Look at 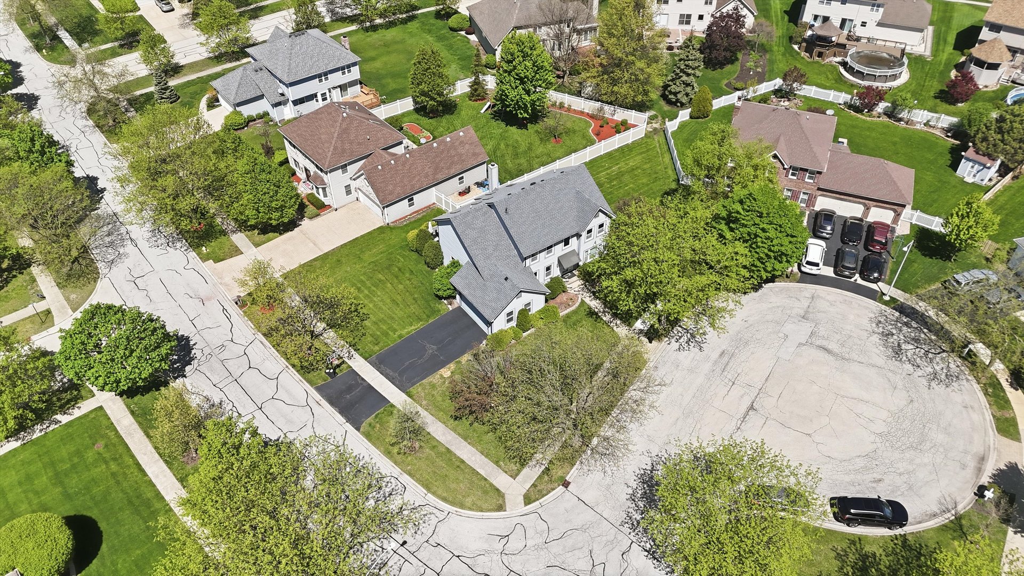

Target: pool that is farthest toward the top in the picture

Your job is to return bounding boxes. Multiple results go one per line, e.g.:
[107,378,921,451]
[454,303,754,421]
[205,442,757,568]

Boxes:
[845,47,911,84]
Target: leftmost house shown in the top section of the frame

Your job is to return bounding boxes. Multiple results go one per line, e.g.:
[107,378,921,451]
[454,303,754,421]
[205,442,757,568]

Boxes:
[210,19,361,117]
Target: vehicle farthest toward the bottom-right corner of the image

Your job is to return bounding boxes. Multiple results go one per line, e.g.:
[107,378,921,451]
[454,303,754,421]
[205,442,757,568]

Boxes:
[829,495,907,532]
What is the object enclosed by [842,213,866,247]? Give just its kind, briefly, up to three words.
car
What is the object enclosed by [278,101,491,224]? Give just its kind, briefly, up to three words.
house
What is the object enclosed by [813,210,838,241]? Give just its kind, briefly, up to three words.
car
